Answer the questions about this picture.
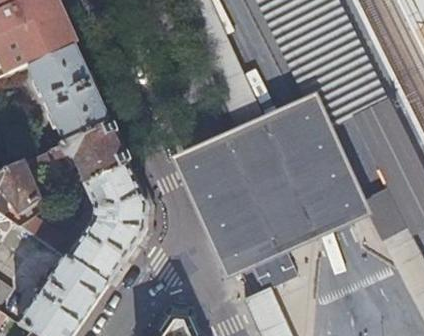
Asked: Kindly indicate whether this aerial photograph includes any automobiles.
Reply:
Yes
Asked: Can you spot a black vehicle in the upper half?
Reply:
No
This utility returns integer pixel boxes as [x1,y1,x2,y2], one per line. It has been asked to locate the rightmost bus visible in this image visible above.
[322,234,348,276]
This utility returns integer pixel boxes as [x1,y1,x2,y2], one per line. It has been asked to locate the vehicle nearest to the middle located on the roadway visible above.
[245,68,273,107]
